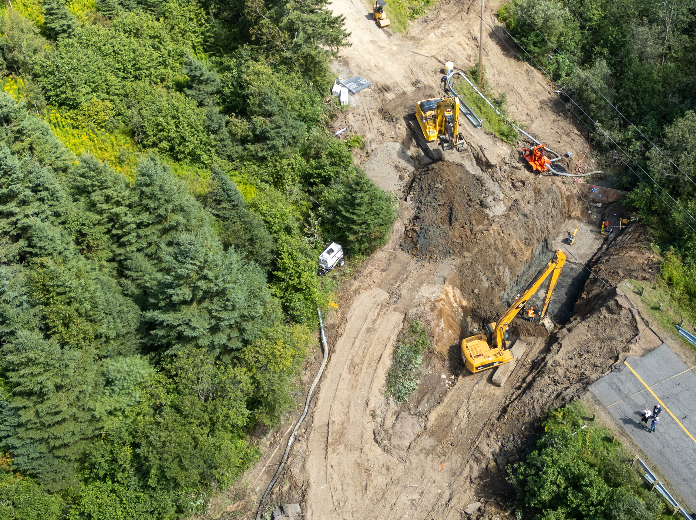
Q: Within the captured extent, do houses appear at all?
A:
No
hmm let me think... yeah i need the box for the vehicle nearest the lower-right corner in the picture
[460,248,566,388]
